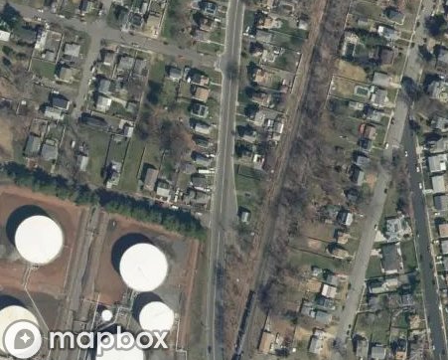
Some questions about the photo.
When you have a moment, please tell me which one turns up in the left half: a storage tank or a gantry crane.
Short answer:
storage tank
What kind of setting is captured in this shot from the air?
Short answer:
residential area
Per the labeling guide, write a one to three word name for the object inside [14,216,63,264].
storage tank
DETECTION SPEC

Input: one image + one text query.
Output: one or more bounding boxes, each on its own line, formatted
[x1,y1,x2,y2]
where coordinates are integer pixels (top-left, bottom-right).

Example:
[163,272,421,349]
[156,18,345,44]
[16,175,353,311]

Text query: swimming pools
[354,85,370,98]
[344,41,356,55]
